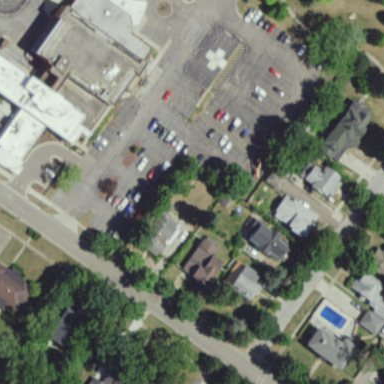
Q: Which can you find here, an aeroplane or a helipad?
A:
helipad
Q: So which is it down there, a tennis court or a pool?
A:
pool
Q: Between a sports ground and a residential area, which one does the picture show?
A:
residential area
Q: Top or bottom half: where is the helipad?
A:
top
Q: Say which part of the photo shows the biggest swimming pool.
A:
bottom right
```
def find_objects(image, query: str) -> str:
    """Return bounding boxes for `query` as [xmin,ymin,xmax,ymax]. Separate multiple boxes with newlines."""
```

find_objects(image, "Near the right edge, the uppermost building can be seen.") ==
[323,98,376,166]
